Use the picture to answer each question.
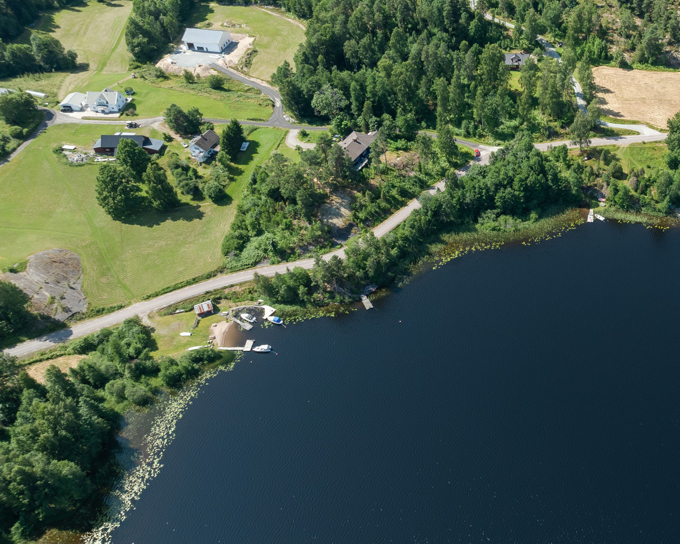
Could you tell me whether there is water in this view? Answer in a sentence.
Yes, some water is visible.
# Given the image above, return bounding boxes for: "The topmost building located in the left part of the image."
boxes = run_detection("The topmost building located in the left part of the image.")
[181,27,235,52]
